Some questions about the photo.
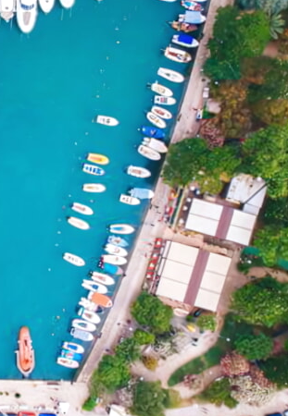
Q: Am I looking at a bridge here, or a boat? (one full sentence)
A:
Looking from above, you can make out a boat.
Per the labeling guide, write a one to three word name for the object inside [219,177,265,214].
building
